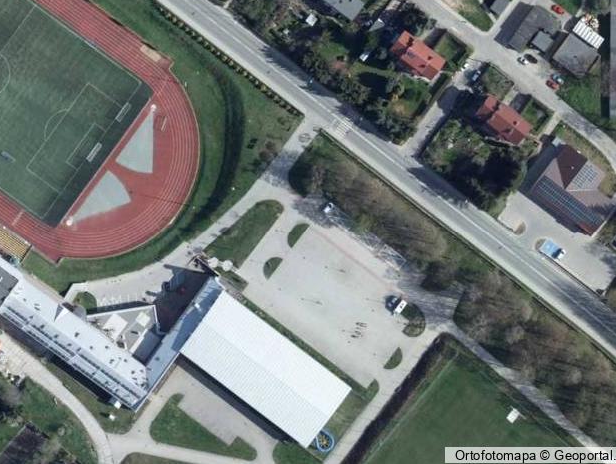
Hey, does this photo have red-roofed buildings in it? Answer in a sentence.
Yes, there is a red-roofed building in the image.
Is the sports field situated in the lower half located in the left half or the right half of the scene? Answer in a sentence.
The sports field situated in the lower half is on the right side of the image.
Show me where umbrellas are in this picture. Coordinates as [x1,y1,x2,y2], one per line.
[223,260,232,270]
[208,257,219,267]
